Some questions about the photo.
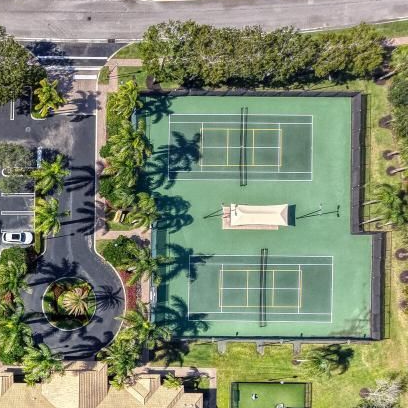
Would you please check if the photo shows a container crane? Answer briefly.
No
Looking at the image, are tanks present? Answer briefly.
No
